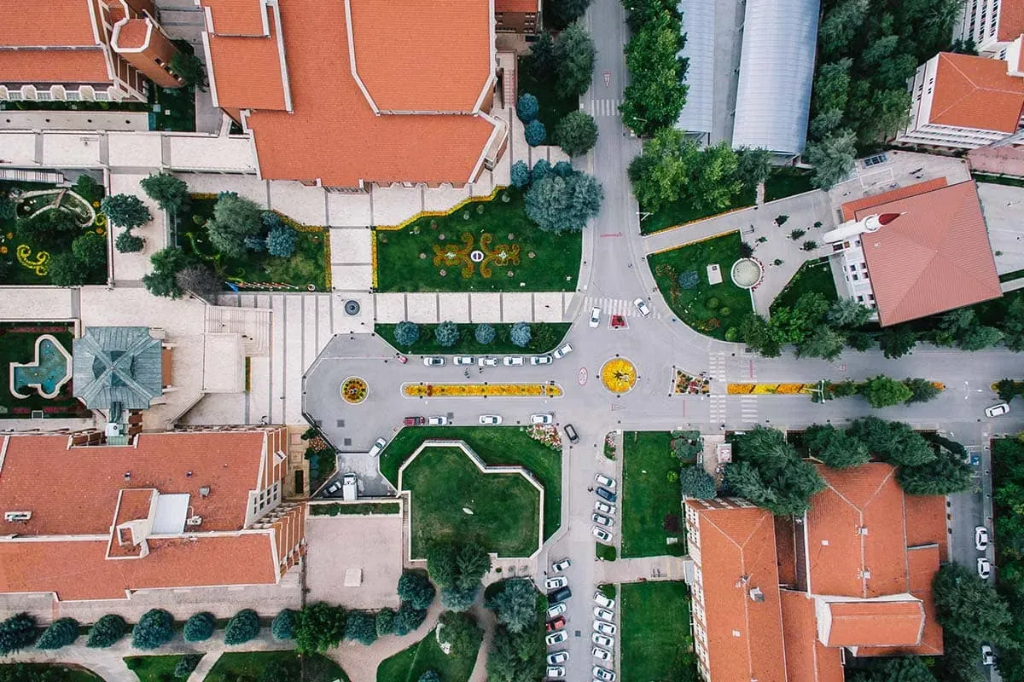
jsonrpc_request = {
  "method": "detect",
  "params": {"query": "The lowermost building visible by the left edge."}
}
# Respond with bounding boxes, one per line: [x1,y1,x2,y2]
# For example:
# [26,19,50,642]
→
[0,412,303,602]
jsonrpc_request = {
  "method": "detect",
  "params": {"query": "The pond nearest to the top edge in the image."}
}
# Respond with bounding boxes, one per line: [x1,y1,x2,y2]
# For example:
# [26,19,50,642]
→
[8,186,94,227]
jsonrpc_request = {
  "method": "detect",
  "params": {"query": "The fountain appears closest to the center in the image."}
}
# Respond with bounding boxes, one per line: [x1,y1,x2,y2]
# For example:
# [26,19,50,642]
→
[343,299,360,316]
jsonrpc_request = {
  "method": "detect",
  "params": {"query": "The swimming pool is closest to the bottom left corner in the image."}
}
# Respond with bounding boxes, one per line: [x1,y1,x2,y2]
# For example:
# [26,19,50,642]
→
[7,331,73,400]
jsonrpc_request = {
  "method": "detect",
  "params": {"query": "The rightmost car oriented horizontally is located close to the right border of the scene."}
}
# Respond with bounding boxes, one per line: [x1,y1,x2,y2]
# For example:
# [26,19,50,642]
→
[984,404,1007,416]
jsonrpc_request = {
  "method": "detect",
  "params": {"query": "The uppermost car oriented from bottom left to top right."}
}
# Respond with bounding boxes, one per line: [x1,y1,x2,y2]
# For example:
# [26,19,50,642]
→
[553,343,573,359]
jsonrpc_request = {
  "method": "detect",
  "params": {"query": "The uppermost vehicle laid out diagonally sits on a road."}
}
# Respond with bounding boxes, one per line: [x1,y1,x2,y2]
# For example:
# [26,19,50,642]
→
[633,297,650,318]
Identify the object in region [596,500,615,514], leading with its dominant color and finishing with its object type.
white car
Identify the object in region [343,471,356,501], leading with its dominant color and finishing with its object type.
white vehicle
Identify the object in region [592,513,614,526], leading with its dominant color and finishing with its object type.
white vehicle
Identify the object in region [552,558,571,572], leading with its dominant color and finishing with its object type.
white car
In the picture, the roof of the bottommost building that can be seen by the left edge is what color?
red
